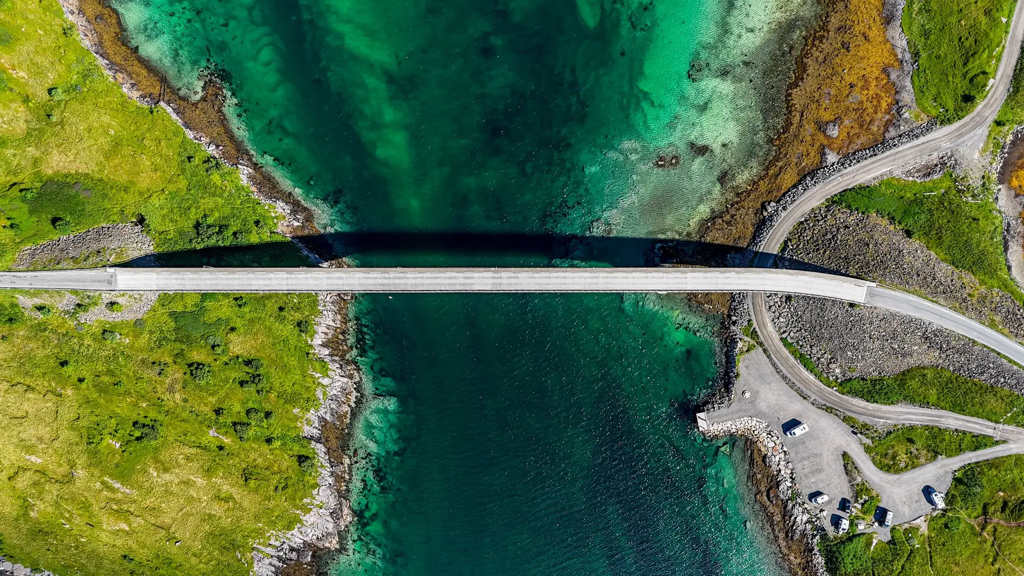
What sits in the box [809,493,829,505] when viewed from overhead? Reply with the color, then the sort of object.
white vehicle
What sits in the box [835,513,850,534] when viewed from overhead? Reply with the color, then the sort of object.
white camper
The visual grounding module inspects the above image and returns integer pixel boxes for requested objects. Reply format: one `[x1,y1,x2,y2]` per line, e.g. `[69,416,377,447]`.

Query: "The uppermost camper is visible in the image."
[784,421,809,437]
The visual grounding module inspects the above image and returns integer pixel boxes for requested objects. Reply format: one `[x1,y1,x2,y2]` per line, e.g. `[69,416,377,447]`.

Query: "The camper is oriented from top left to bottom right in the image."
[924,484,945,509]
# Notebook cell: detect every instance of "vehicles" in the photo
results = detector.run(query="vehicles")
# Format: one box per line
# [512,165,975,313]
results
[878,508,894,529]
[809,493,829,505]
[924,484,945,509]
[835,513,850,534]
[843,498,852,515]
[784,421,809,437]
